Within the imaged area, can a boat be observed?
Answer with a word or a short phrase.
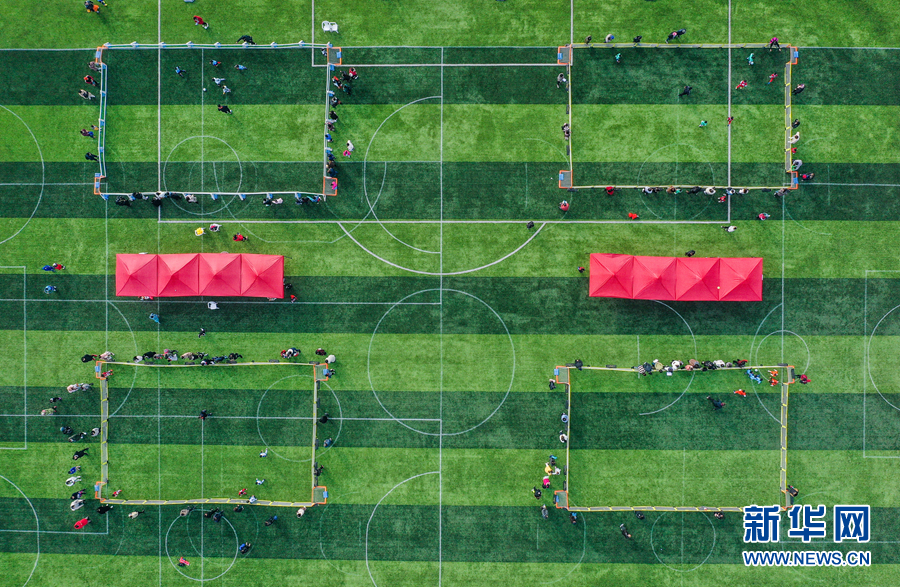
No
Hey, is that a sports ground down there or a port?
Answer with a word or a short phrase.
sports ground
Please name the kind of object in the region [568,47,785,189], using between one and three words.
soccer field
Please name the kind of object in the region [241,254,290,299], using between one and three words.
tent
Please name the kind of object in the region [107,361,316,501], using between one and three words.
soccer field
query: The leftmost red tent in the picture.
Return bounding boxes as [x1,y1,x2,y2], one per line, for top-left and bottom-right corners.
[116,254,157,296]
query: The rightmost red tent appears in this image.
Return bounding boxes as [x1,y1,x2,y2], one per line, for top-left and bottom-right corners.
[719,257,763,301]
